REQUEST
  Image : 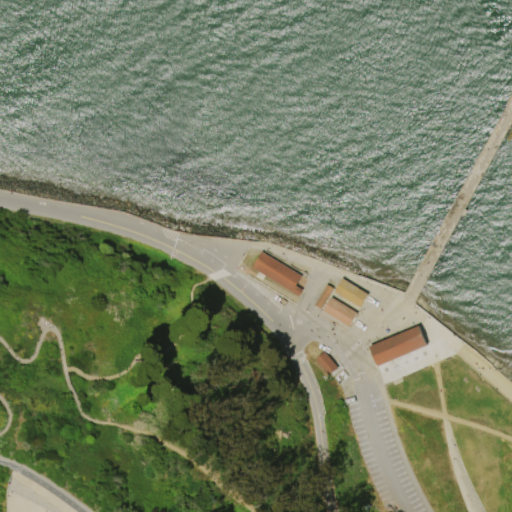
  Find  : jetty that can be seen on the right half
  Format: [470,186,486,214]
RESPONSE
[406,90,512,300]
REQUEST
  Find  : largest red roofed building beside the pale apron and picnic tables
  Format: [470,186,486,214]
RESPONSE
[370,324,429,366]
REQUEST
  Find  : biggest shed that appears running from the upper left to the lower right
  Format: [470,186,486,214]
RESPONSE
[253,252,304,295]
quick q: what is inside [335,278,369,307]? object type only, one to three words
shed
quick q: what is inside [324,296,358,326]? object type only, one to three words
shed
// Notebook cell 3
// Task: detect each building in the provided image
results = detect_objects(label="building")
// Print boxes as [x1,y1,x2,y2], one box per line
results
[316,352,338,374]
[370,324,429,366]
[335,278,369,307]
[324,296,358,326]
[316,284,335,308]
[253,252,304,295]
